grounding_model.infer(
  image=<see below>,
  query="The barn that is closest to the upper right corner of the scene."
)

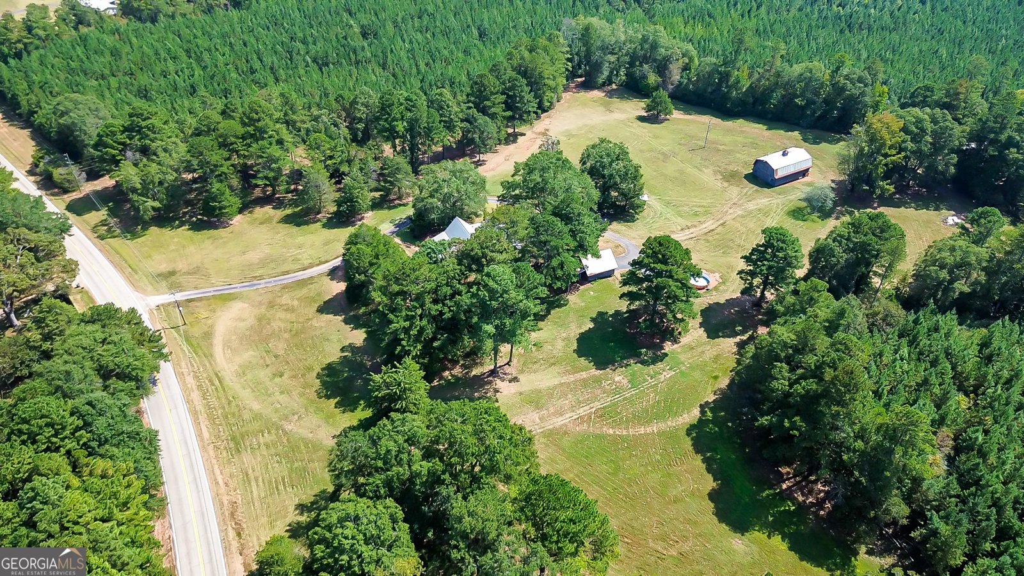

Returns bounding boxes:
[748,146,812,186]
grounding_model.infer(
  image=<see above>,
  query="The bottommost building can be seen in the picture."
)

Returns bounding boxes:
[565,251,619,282]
